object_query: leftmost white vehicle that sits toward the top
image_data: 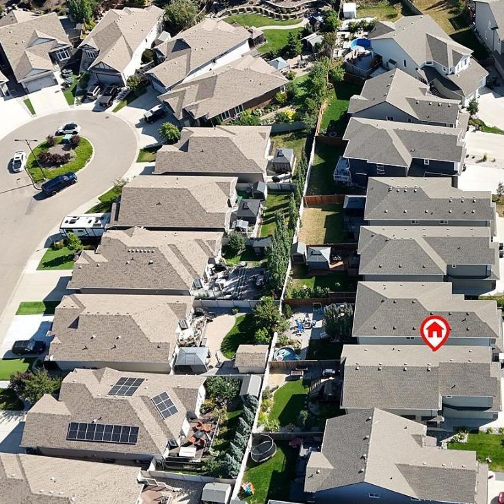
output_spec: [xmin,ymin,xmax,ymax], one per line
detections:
[12,152,28,173]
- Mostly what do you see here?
buildings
